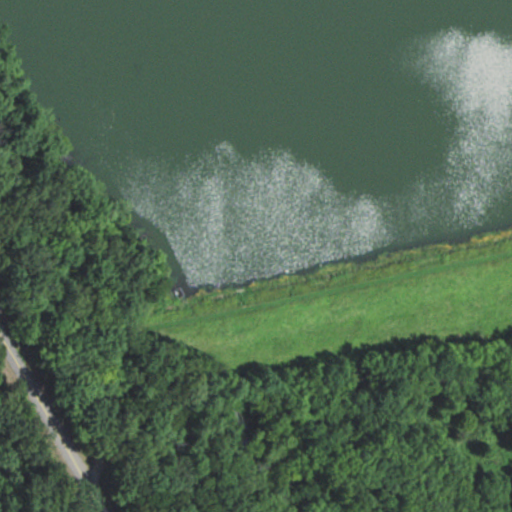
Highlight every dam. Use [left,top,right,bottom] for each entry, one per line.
[128,223,512,382]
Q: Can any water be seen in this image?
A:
Yes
